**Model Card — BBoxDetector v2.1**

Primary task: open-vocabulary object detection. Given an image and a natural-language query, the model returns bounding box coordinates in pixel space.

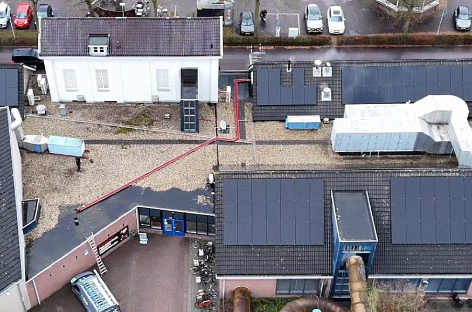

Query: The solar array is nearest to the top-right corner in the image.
[343,65,472,104]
